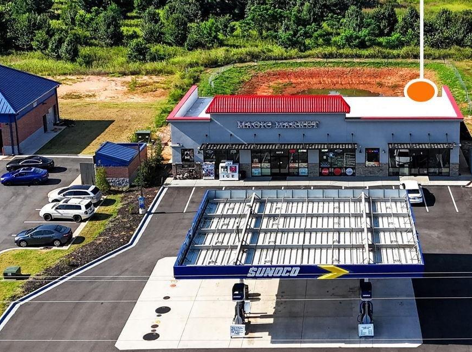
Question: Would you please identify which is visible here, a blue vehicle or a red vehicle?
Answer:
blue vehicle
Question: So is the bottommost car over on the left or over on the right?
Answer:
left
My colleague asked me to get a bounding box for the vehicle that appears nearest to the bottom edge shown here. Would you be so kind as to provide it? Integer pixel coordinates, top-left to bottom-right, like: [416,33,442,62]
[11,221,76,246]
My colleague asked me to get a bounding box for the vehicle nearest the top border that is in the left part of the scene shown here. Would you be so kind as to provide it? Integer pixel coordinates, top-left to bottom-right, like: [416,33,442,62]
[3,151,56,169]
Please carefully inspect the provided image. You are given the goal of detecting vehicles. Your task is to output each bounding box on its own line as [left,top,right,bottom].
[0,165,49,184]
[400,181,423,204]
[36,195,96,221]
[11,221,76,246]
[49,181,103,202]
[3,151,56,169]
